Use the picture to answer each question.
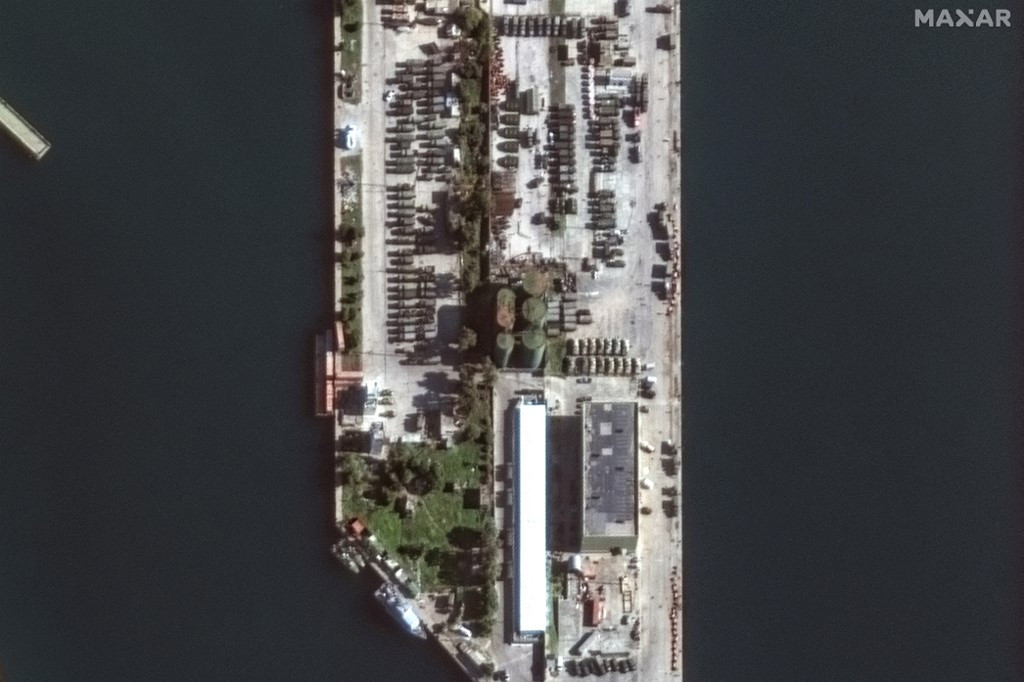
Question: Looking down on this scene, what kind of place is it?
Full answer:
The picture captures a port.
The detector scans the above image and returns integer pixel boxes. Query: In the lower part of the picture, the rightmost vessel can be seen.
[374,581,428,641]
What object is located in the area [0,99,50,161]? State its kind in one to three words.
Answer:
pier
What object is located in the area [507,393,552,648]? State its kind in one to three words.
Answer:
building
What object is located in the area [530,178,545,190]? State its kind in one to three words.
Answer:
vehicle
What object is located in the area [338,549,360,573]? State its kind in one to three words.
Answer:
boat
